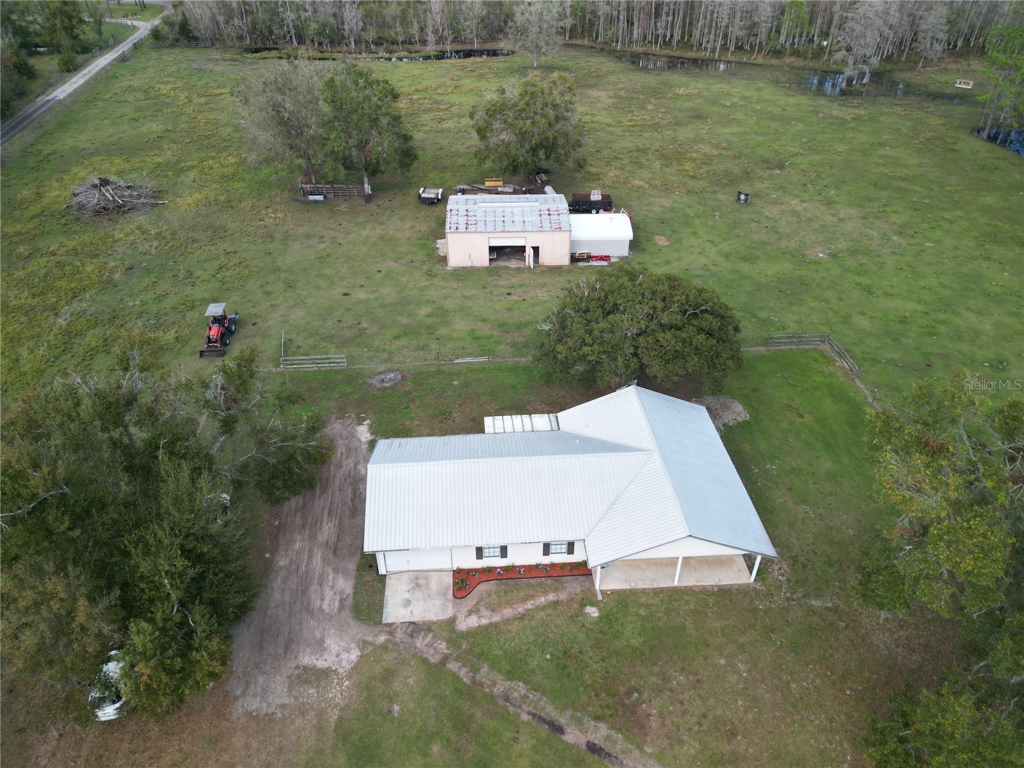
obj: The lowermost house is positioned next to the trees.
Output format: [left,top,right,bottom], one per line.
[364,378,778,592]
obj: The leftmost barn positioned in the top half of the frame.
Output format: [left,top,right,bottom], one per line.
[445,193,573,269]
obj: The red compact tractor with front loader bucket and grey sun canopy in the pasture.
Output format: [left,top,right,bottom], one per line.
[200,304,238,357]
